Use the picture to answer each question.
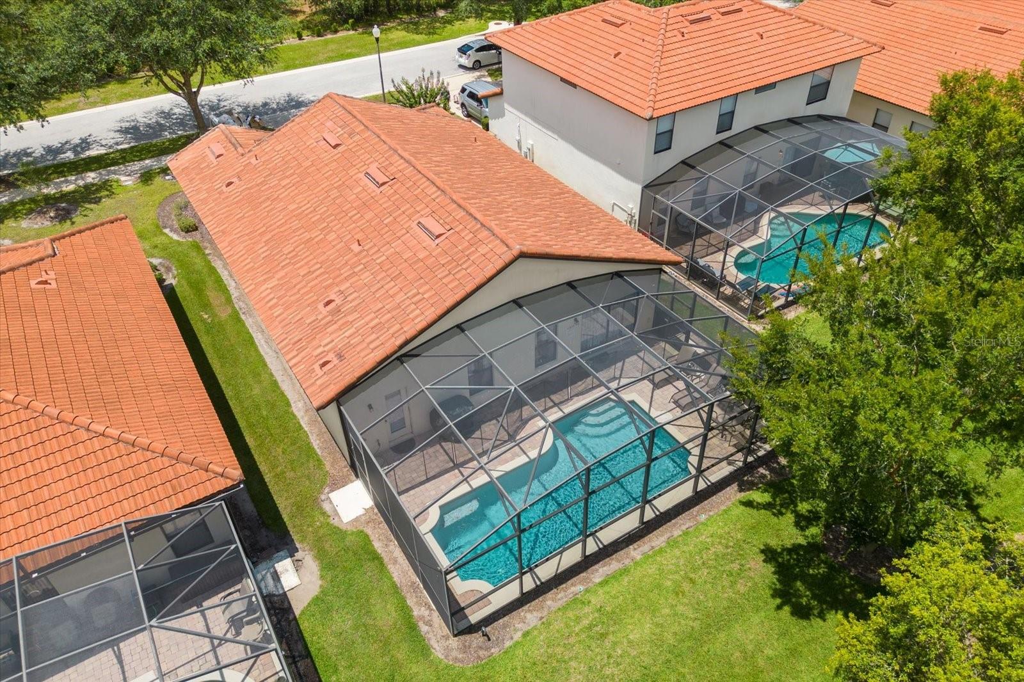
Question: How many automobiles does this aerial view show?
two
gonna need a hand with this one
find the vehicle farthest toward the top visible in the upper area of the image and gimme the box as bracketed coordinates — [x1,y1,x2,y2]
[454,35,501,69]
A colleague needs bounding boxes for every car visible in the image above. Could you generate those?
[454,35,501,69]
[454,72,504,128]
